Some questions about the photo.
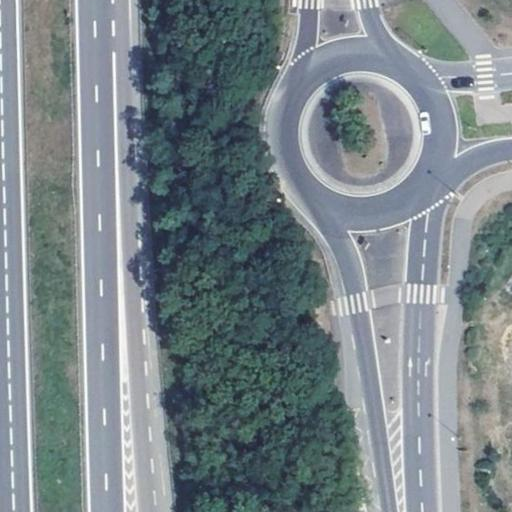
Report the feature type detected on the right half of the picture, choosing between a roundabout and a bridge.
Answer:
roundabout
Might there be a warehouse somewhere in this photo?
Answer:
No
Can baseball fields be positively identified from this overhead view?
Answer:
No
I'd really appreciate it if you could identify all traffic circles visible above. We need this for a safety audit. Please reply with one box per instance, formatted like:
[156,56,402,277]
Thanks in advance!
[264,36,458,231]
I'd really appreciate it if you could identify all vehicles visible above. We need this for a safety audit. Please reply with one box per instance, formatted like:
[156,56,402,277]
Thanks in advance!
[451,76,474,88]
[420,112,430,135]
